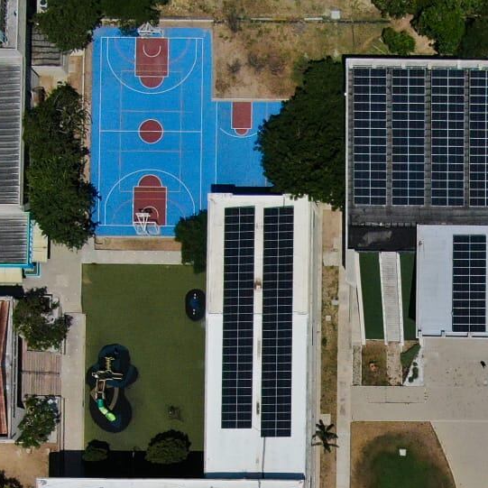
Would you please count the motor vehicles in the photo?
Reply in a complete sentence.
Not a single motor vehicle can be seen.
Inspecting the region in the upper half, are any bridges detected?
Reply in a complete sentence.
No, the scene shows no bridge in the upper half.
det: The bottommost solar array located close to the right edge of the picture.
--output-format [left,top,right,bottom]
[452,234,486,331]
